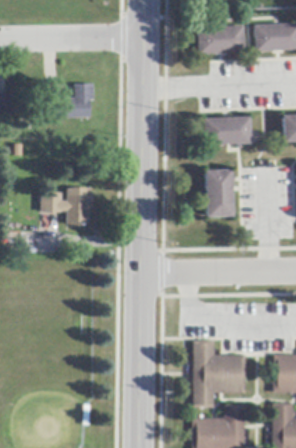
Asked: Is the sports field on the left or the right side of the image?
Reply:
left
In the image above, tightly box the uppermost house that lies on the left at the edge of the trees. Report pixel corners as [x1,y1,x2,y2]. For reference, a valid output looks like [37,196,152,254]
[68,83,96,120]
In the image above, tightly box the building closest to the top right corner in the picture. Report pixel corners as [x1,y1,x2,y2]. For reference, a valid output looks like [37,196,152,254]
[254,24,296,52]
